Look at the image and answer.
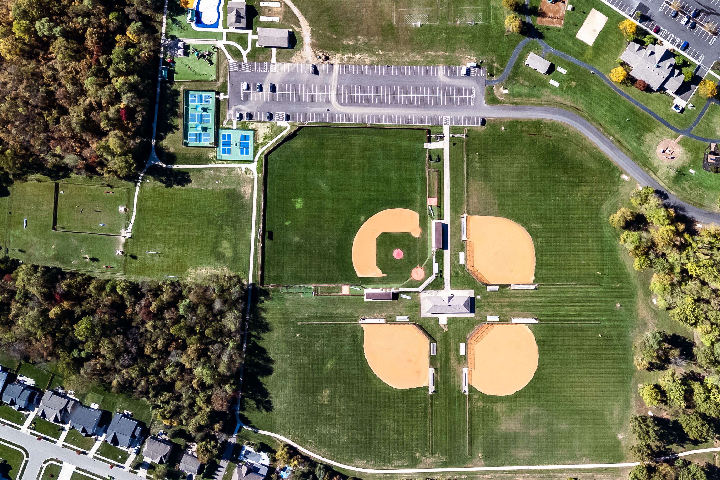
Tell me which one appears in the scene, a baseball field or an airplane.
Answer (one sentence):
The one in the frame is a baseball field.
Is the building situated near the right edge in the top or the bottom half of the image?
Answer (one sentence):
The top half of the photo is where the building situated near the right edge is.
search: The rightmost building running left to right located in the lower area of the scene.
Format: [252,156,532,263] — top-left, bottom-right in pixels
[426,296,470,312]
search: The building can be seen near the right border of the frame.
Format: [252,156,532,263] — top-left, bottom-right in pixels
[620,41,684,93]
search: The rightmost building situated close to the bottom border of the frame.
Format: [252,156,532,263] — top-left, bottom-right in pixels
[233,460,268,480]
